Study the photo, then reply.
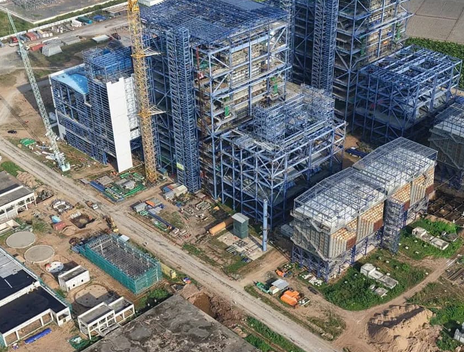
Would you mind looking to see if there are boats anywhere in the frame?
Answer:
No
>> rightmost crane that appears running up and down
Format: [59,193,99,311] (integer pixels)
[128,0,174,183]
